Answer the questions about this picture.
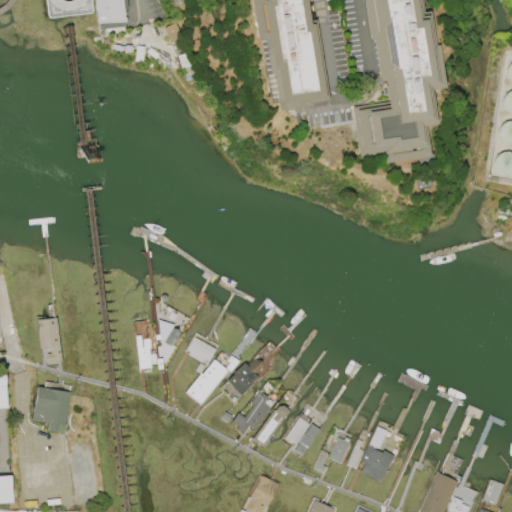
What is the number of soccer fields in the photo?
0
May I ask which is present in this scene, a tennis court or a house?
house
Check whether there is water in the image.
Yes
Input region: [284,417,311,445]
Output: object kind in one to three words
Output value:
house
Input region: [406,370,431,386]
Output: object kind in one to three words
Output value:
boat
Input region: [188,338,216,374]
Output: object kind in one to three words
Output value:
house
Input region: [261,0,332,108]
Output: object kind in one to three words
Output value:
building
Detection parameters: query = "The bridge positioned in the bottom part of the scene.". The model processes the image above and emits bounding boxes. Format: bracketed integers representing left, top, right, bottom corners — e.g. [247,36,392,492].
[82,186,136,512]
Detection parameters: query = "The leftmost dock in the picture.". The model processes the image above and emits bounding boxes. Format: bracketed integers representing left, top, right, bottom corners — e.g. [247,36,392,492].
[28,217,57,302]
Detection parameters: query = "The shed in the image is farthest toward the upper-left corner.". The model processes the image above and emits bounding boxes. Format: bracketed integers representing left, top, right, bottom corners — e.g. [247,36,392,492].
[98,0,127,29]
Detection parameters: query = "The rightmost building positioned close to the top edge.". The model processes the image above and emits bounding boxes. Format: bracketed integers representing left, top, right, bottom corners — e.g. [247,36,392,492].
[354,0,448,167]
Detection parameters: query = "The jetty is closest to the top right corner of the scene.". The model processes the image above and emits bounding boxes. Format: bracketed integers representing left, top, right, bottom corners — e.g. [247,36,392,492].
[420,236,498,260]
